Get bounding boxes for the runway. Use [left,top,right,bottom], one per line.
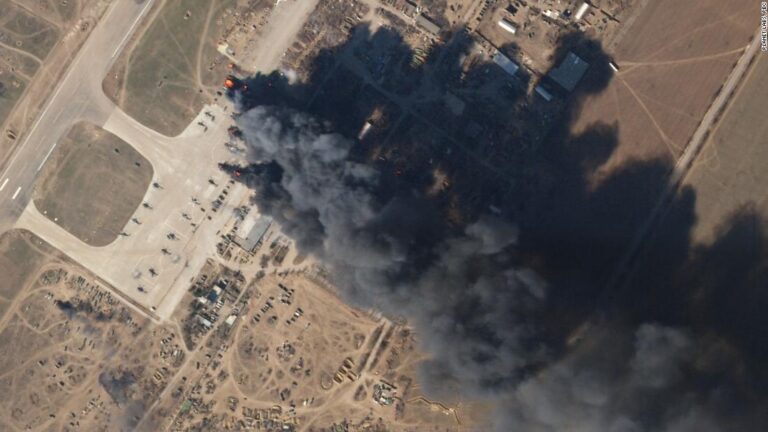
[0,0,156,236]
